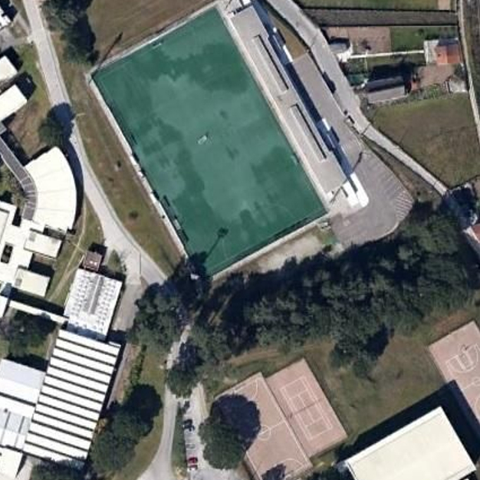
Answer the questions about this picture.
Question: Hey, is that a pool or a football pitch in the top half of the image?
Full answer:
There is a football pitch in the top half of the image.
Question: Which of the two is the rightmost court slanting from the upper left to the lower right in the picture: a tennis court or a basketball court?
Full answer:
The rightmost court slanting from the upper left to the lower right in the image is a tennis court.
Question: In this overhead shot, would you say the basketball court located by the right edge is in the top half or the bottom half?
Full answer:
The basketball court located by the right edge sits in the bottom half of the picture.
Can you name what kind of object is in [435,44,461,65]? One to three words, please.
house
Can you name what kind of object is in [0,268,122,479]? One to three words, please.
building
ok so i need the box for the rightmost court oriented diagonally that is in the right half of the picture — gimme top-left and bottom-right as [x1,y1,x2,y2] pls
[266,359,346,457]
